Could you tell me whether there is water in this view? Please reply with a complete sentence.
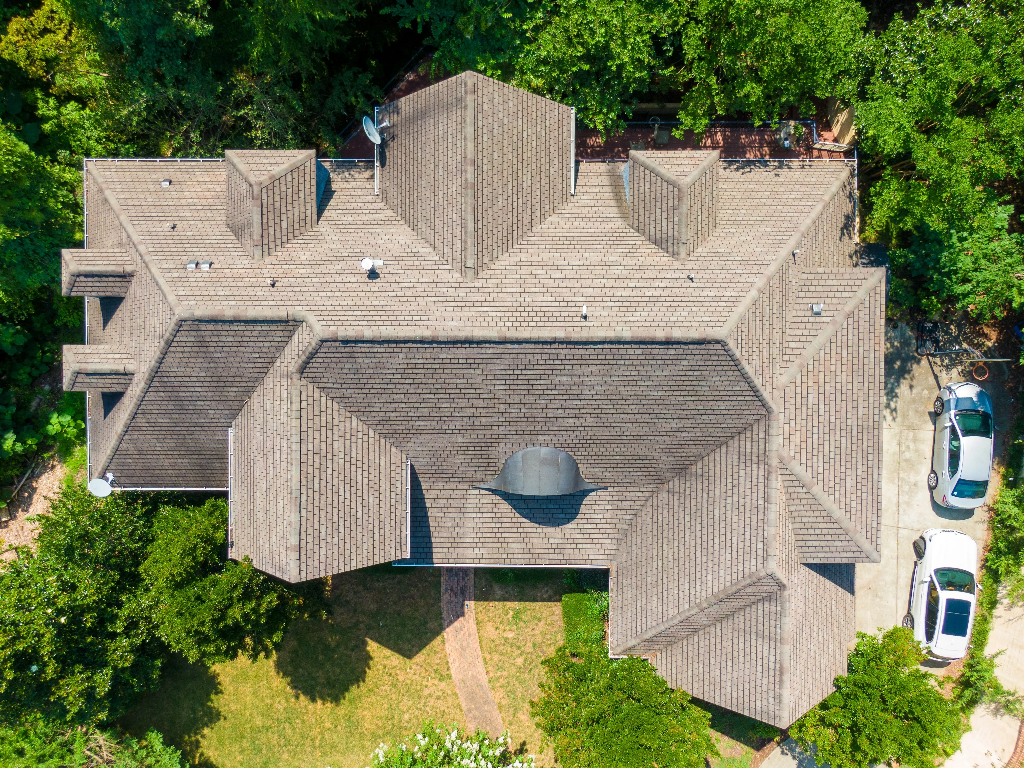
No, water can't be seen anywhere here.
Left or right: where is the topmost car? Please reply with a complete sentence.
The topmost car sits on the right side.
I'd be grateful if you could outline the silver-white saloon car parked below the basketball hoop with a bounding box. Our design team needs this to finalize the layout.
[928,380,1003,511]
